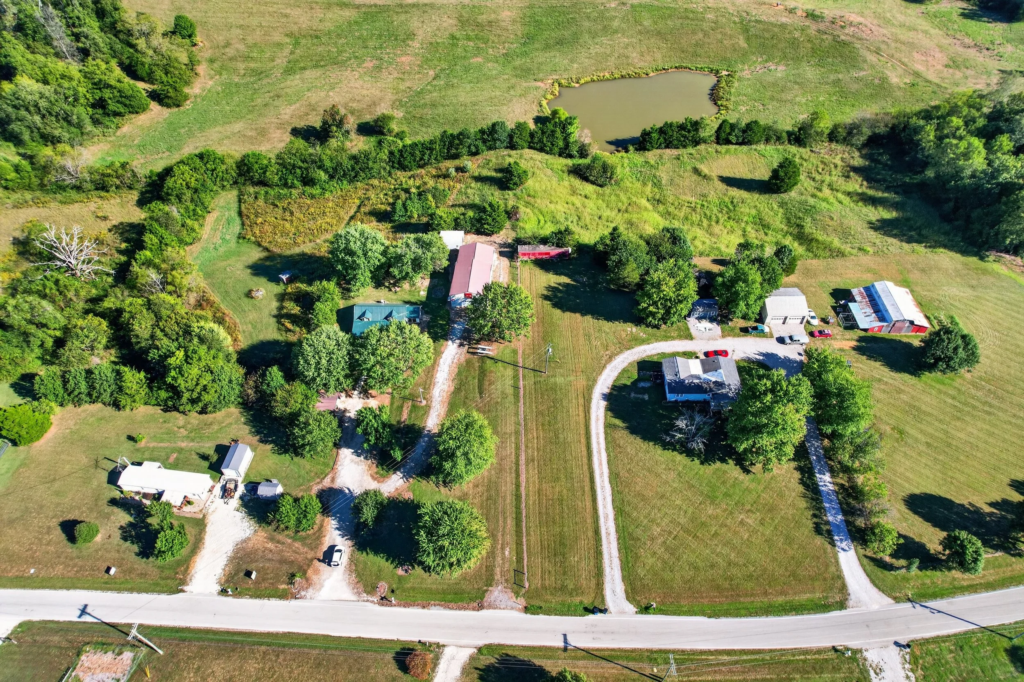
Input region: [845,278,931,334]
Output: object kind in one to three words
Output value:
barn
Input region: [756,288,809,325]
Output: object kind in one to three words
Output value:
building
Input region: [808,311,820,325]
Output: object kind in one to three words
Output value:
vehicle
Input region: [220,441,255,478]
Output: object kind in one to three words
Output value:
shed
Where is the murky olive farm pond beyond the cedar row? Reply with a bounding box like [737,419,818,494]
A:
[550,71,719,152]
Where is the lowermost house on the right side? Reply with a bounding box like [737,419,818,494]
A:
[661,354,739,413]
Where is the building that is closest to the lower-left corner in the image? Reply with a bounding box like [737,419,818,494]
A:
[117,461,219,512]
